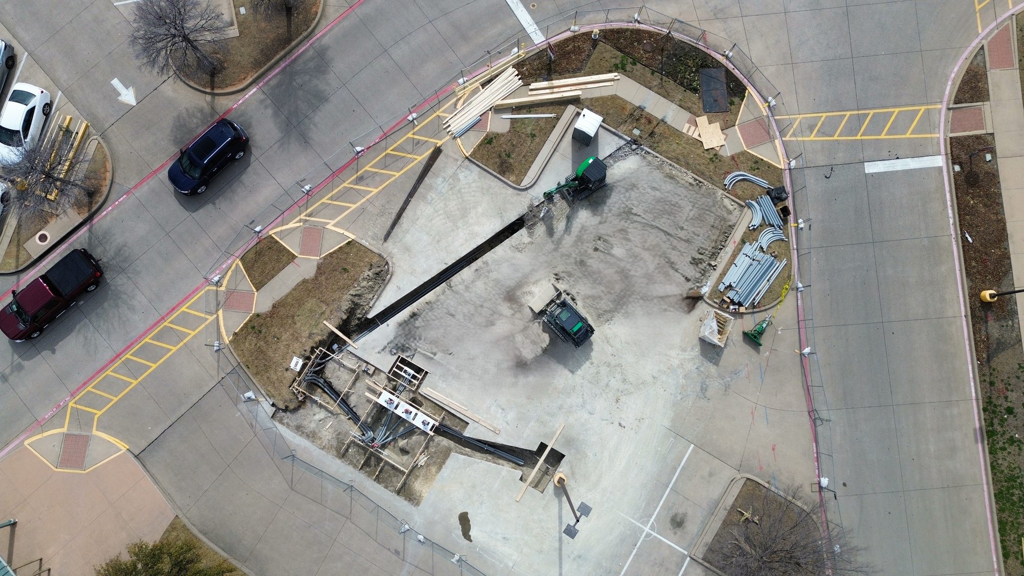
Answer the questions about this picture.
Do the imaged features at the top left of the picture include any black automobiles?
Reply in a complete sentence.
Yes, there is a black automobile at the top left of the picture.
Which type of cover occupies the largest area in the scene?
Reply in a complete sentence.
The scene is dominated by paved ground.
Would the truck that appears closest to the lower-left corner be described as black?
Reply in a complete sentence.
Yes, the truck that appears closest to the lower-left corner appears black.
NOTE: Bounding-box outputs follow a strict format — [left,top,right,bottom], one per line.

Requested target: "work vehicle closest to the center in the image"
[527,283,596,347]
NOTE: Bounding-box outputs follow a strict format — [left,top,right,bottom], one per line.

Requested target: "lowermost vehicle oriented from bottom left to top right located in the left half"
[0,248,105,345]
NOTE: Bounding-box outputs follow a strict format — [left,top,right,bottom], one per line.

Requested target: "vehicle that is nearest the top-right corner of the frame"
[543,160,611,208]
